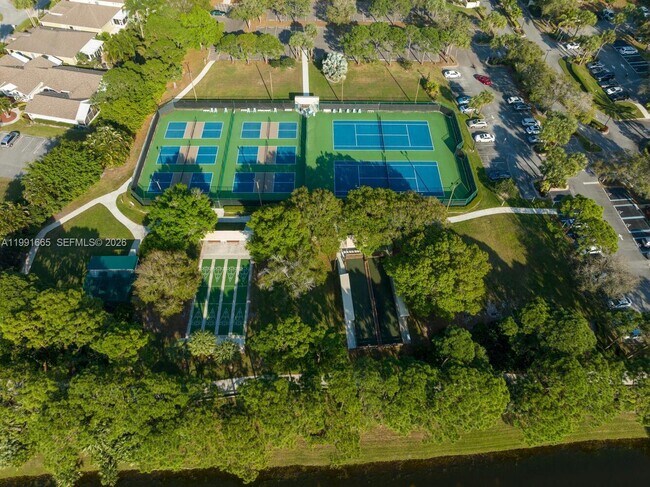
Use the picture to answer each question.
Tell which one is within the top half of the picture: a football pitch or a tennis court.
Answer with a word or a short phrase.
tennis court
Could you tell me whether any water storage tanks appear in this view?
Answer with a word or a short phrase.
No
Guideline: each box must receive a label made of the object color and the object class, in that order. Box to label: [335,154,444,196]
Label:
blue tennis court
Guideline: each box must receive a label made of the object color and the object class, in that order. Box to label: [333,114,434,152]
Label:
blue tennis court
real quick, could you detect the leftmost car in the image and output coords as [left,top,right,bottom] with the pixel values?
[3,131,20,146]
